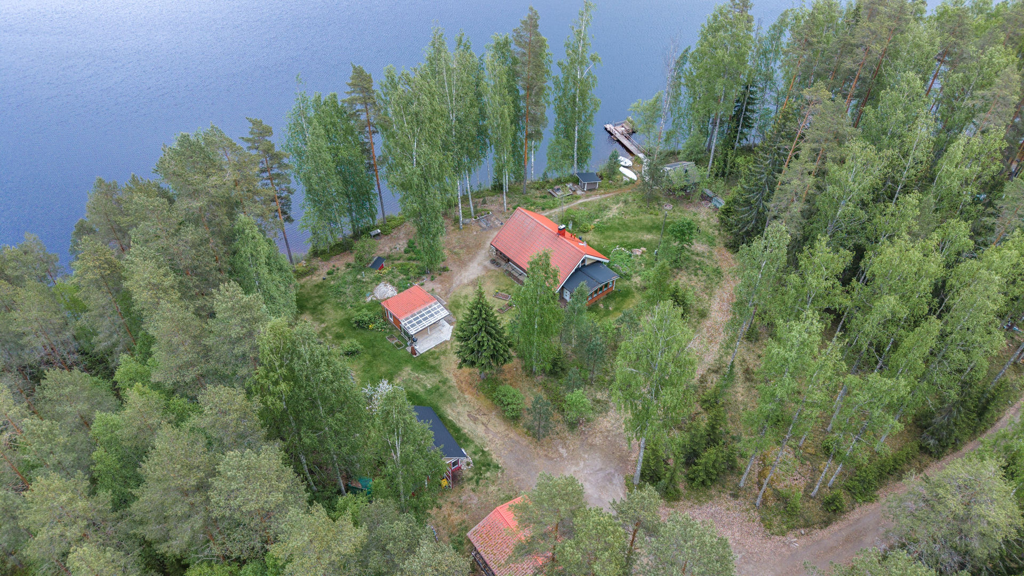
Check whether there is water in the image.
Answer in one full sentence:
Yes, there's water in this view.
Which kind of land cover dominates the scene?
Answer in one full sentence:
The largest share of the image is taken up by trees.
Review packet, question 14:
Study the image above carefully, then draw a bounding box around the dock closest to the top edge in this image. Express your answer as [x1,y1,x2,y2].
[604,117,648,155]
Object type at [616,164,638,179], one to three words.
boat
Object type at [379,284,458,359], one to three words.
building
